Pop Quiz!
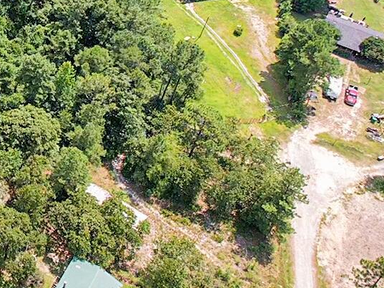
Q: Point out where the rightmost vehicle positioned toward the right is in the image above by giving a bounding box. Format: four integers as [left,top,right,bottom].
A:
[343,83,360,105]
